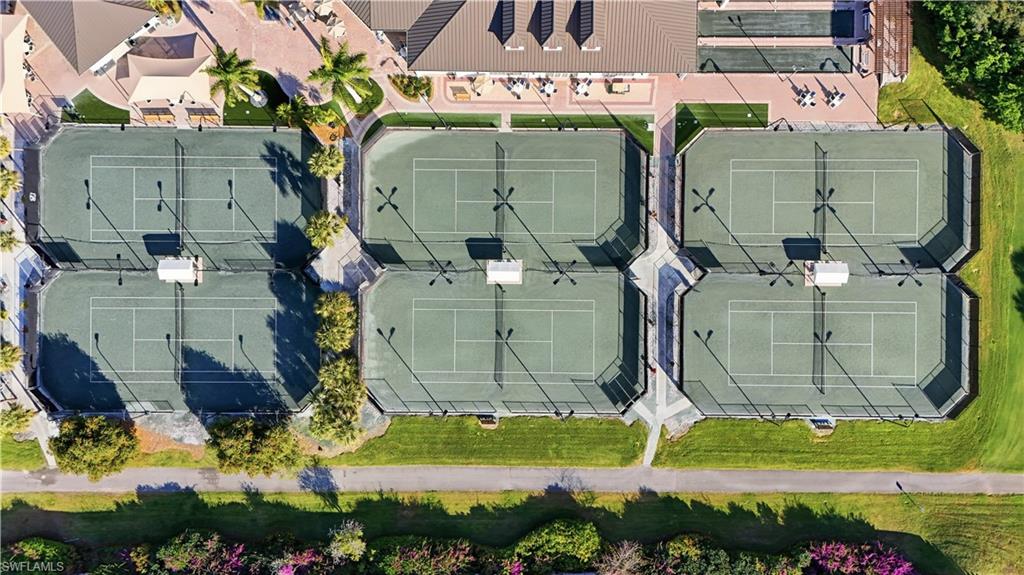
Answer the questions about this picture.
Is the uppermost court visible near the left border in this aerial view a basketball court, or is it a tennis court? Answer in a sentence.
The uppermost court visible near the left border is a tennis court.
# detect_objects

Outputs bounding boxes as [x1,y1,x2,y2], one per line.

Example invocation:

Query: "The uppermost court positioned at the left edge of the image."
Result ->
[38,124,322,270]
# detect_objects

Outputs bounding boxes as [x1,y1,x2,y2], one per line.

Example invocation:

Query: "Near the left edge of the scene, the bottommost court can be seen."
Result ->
[38,269,322,413]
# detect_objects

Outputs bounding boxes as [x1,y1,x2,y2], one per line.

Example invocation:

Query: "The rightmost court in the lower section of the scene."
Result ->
[680,272,969,418]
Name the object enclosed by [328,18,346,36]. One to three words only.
umbrella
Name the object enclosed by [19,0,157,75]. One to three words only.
building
